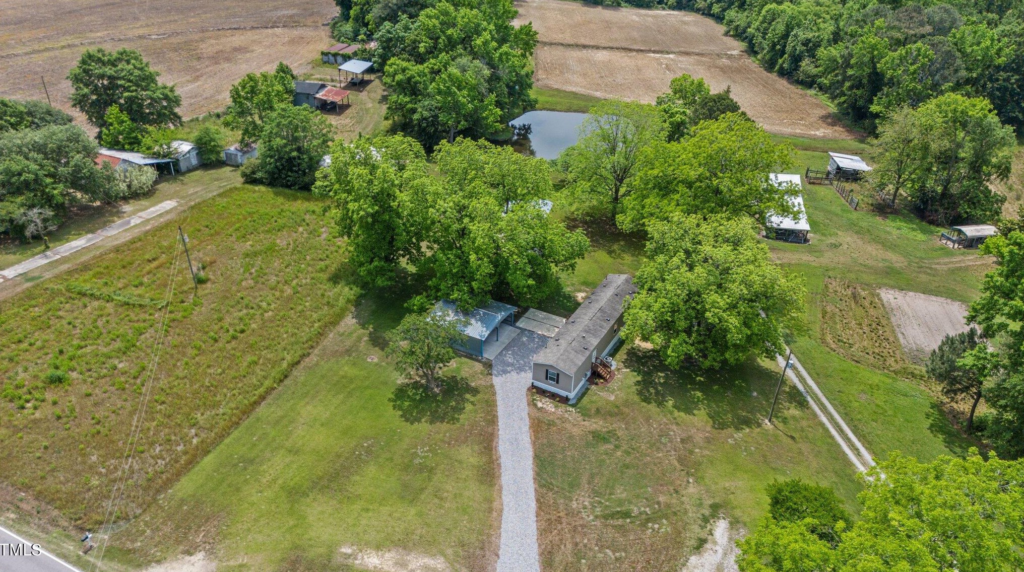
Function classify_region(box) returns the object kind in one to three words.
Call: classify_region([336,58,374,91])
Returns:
shed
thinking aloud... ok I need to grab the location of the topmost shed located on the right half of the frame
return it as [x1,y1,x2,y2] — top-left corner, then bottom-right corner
[833,152,874,180]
